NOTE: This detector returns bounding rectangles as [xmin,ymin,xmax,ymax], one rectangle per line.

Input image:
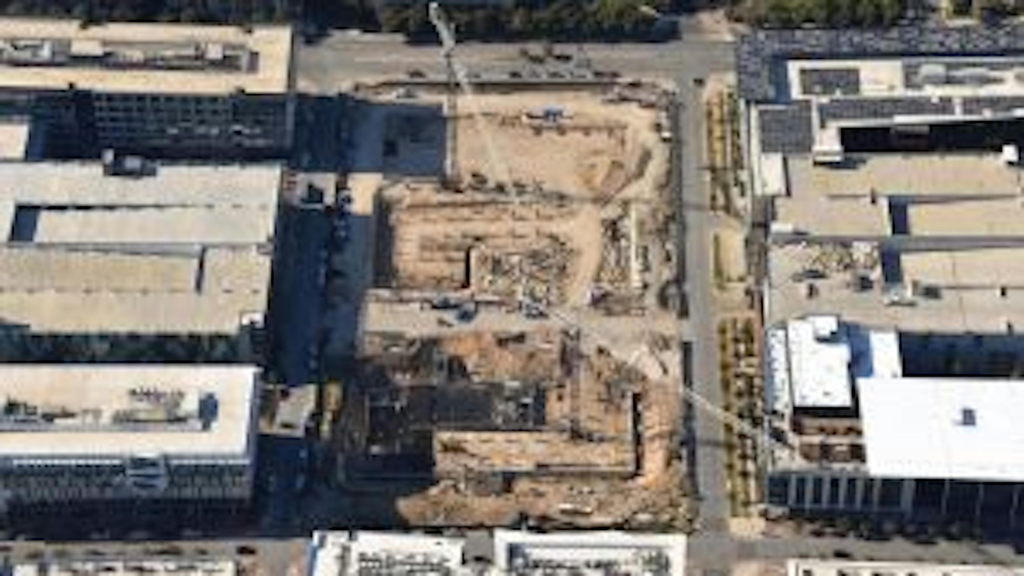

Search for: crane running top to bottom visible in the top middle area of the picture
[430,2,518,197]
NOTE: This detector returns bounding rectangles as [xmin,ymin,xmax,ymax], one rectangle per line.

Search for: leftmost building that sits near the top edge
[0,16,297,165]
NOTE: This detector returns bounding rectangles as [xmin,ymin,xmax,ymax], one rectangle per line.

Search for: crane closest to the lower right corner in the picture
[524,299,754,442]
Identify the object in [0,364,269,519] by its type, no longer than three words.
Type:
building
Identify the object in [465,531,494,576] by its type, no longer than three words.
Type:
building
